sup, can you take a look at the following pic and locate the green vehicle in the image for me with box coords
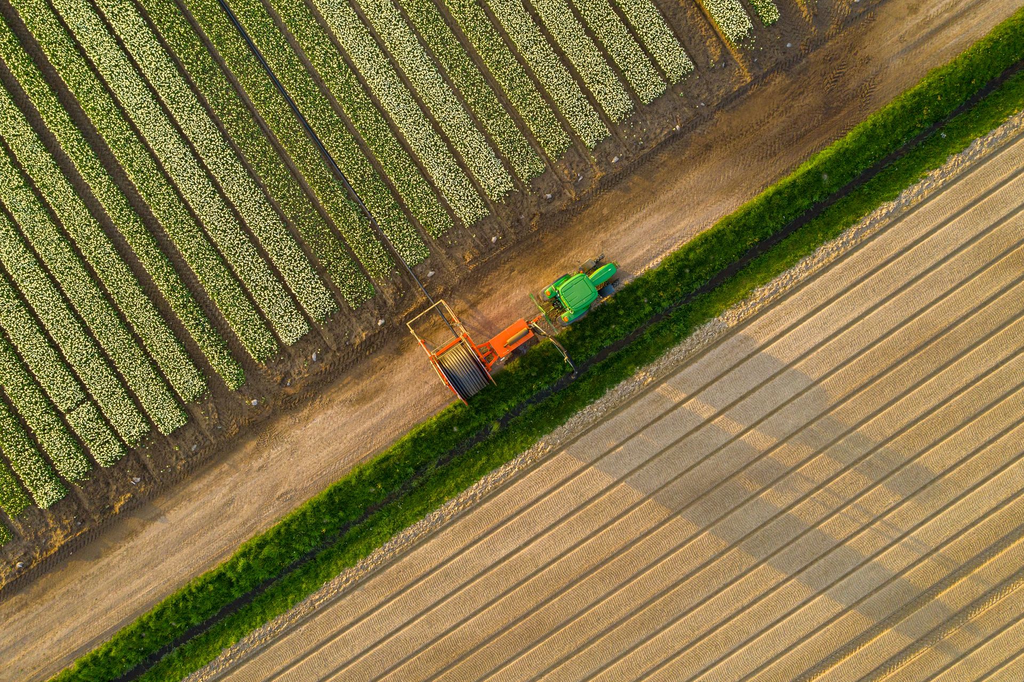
[531,255,622,335]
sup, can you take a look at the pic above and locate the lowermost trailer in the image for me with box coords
[406,299,546,406]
